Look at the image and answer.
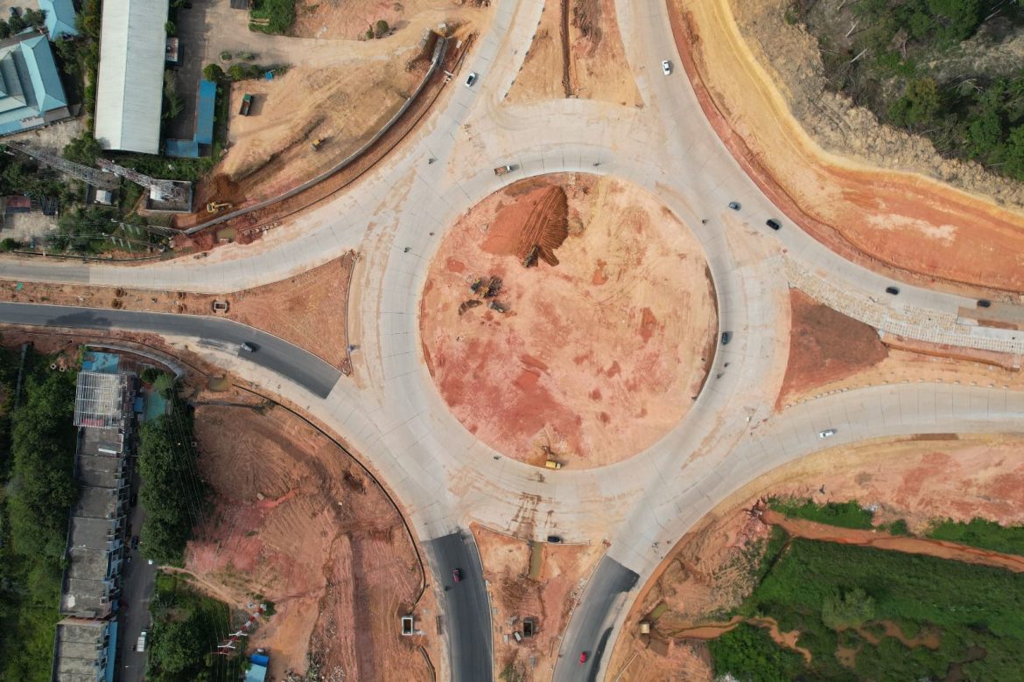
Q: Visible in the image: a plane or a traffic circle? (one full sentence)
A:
Looking from above, you can make out a traffic circle.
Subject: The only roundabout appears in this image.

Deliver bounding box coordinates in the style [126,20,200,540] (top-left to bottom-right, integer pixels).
[348,99,789,541]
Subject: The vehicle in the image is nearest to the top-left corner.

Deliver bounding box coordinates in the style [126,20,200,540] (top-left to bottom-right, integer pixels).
[235,91,251,115]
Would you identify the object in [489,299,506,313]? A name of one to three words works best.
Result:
vehicle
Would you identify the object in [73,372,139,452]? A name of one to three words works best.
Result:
building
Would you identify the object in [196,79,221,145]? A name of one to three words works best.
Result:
shed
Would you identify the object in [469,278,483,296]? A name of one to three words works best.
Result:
vehicle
